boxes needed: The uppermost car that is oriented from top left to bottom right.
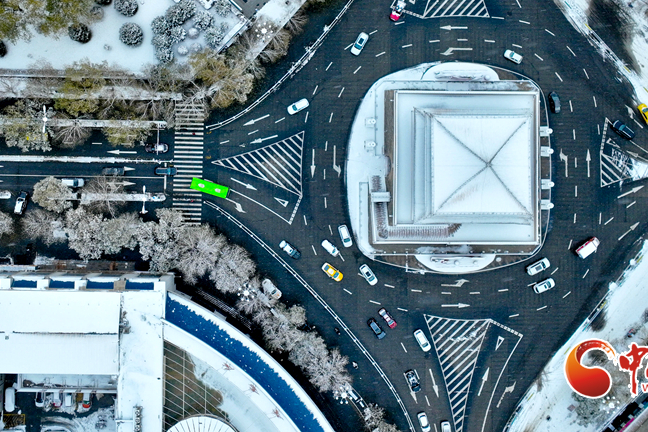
[502,48,523,65]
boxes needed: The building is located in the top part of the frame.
[368,81,547,255]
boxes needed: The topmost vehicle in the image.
[391,0,404,21]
